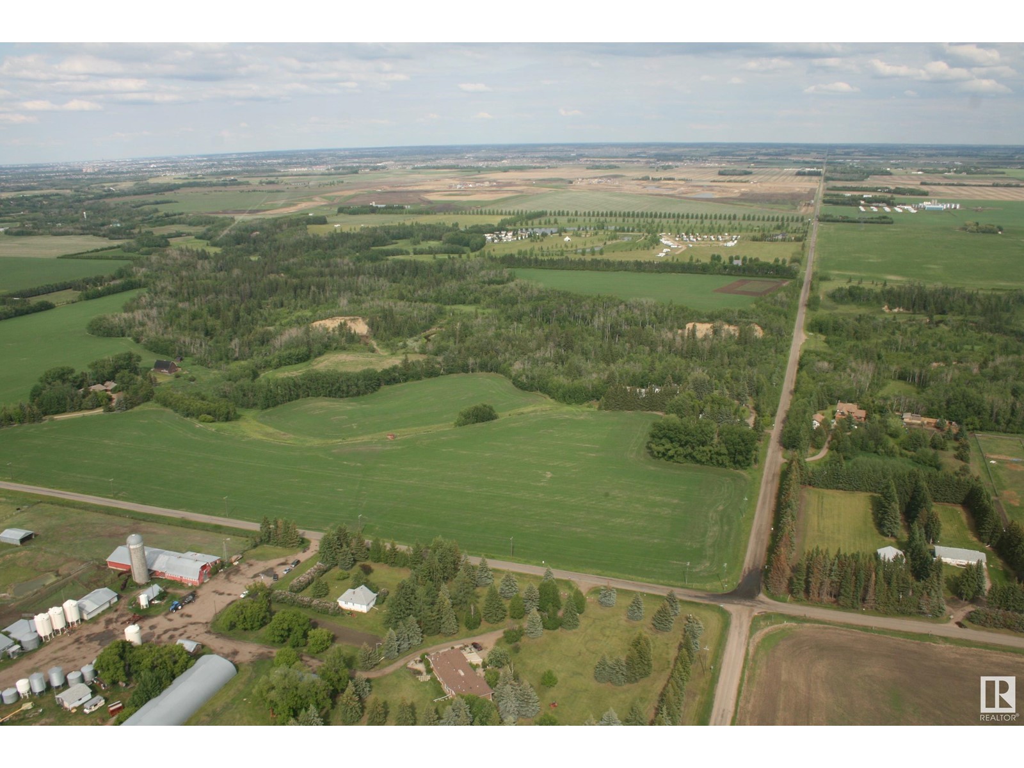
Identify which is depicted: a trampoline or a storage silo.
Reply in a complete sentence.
The image shows a storage silo.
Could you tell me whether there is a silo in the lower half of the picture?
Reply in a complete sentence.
Yes, a silo is visible in the lower half of the picture.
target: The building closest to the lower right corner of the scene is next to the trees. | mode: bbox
[932,549,989,568]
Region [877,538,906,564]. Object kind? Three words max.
building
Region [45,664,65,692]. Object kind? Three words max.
silo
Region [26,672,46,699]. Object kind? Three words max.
silo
